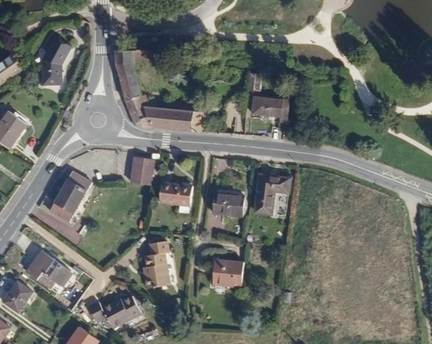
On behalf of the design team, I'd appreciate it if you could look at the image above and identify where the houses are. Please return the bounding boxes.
[212,258,246,288]
[140,240,172,288]
[140,106,195,134]
[0,54,24,87]
[254,170,294,216]
[86,291,145,331]
[0,110,29,148]
[32,168,94,244]
[212,182,246,218]
[0,316,15,340]
[28,248,69,290]
[254,95,290,126]
[130,155,156,186]
[158,180,194,214]
[42,38,72,86]
[66,325,100,344]
[2,280,35,314]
